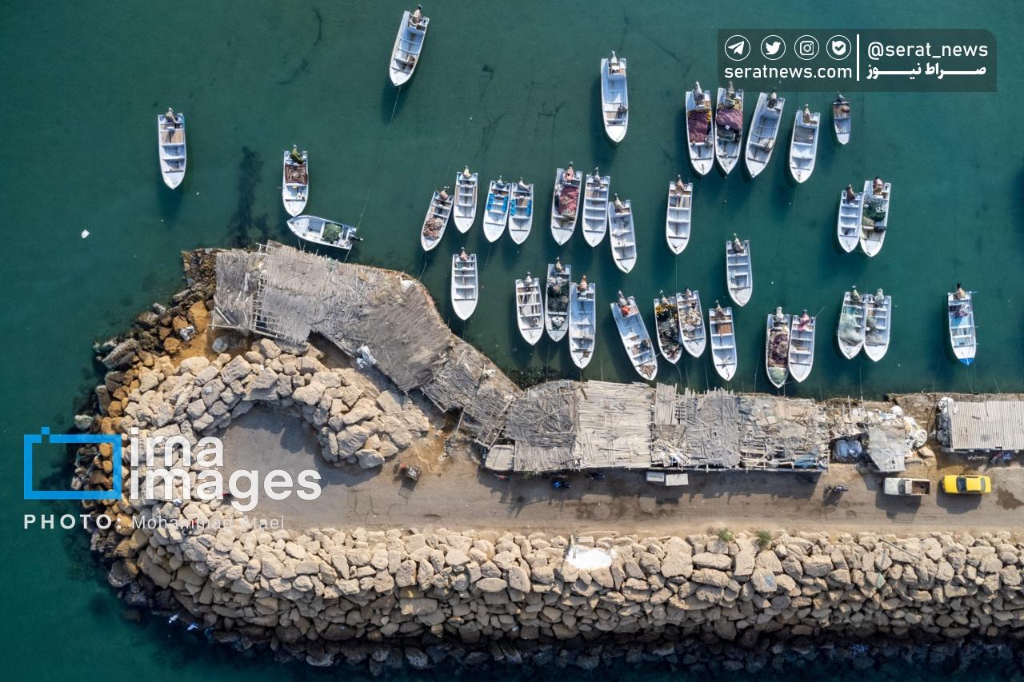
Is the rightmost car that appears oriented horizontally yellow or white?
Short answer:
yellow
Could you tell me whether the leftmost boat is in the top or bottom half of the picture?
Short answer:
top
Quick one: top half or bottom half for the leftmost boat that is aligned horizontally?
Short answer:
top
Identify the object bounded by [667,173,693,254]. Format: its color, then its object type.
white boat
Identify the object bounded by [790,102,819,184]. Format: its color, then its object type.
white boat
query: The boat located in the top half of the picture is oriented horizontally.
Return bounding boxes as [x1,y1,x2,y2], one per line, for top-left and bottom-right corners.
[287,215,361,249]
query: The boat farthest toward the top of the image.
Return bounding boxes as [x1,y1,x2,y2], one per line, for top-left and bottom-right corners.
[390,5,428,88]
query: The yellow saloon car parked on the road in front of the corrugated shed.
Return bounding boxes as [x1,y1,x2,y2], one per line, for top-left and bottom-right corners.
[941,475,992,497]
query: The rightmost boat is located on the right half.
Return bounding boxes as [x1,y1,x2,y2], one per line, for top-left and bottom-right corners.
[945,284,978,365]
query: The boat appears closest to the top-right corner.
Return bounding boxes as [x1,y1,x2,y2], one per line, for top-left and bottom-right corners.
[832,93,851,146]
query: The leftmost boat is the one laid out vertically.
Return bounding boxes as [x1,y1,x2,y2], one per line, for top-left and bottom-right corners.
[158,105,186,190]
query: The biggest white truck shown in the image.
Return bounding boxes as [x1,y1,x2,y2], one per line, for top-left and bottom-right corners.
[883,477,933,499]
